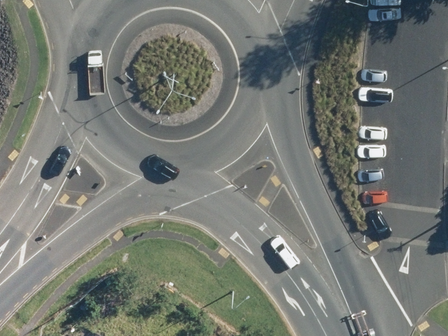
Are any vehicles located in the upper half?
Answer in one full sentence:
Yes, I can see a vehicle in the upper half.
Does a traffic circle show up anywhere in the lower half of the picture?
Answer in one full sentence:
No, the scene shows no traffic circle in the lower half of the picture.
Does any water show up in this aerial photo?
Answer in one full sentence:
No, the picture contains no water.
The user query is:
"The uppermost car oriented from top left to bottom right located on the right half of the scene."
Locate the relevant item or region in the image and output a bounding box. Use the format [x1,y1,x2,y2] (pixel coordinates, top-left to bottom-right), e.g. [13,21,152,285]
[368,210,392,239]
